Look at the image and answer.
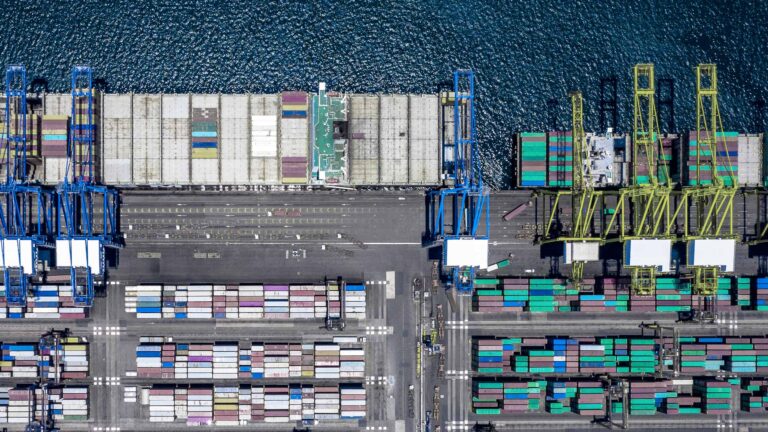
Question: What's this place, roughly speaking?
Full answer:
This image shows a port.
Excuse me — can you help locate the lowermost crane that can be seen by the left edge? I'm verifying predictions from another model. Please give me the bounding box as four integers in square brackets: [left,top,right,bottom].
[25,382,59,432]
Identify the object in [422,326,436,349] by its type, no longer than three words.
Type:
work vehicle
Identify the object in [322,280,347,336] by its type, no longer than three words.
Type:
crane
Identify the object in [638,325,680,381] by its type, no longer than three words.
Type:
crane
